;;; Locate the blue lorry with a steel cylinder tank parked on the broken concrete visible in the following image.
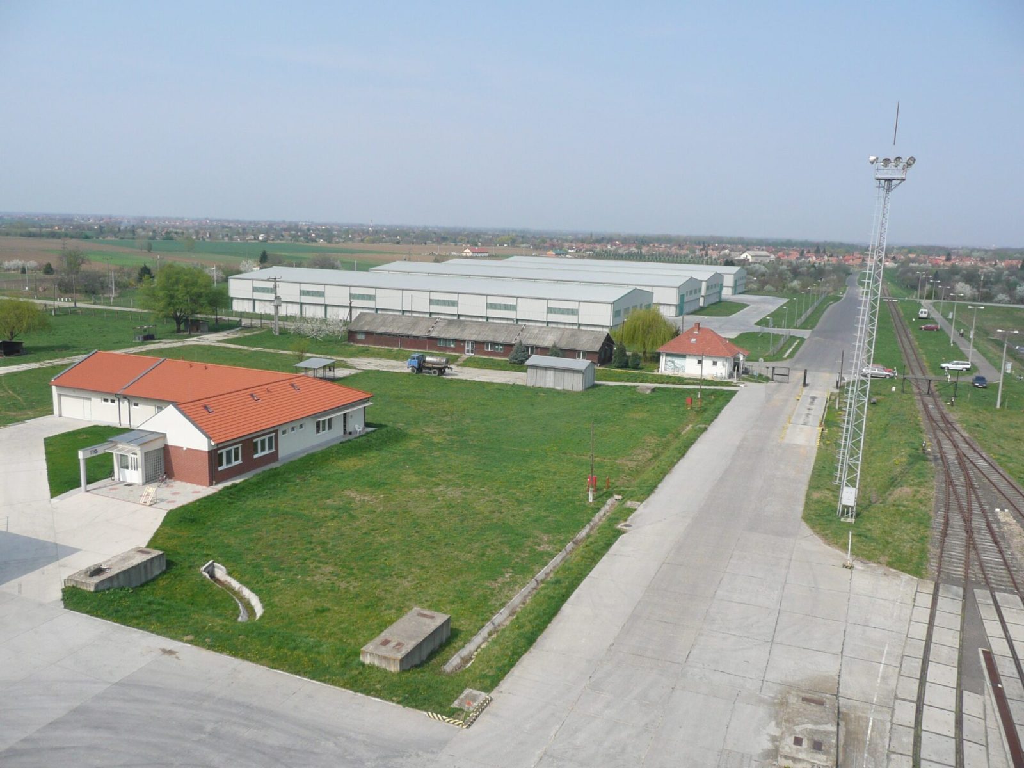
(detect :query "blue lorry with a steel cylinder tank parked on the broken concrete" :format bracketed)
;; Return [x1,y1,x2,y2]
[408,352,457,375]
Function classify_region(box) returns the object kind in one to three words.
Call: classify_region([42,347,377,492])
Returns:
building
